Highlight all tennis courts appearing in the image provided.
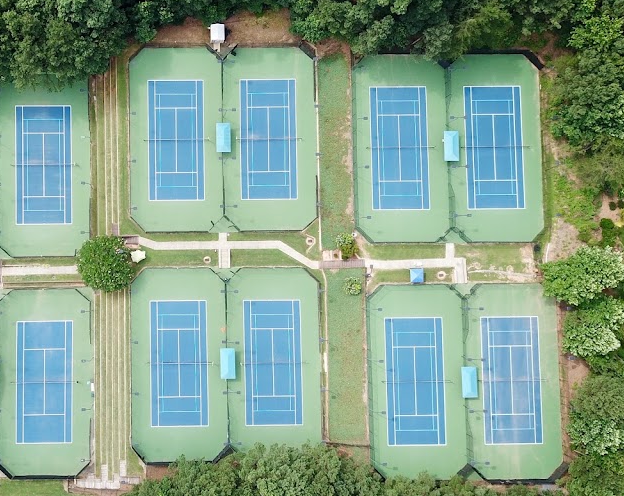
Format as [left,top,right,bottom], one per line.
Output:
[226,267,323,461]
[464,284,563,477]
[129,48,240,232]
[367,285,483,479]
[222,47,318,231]
[0,289,91,476]
[447,53,545,241]
[0,70,90,256]
[131,267,241,464]
[353,54,465,242]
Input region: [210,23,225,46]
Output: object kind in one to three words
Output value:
shed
